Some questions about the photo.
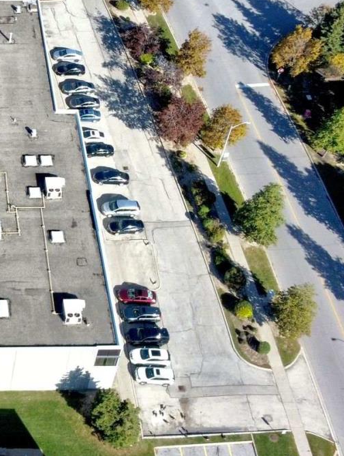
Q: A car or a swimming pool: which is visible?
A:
car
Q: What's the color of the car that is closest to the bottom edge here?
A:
white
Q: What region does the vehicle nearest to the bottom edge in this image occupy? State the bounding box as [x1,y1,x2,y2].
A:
[134,364,176,386]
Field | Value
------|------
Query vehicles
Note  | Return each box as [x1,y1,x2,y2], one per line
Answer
[121,304,163,324]
[107,217,145,234]
[85,141,117,159]
[61,79,94,95]
[83,128,109,143]
[68,95,101,110]
[117,287,158,305]
[93,169,129,186]
[129,345,171,367]
[101,198,140,216]
[70,109,104,124]
[134,364,176,386]
[127,324,169,345]
[54,62,85,77]
[52,49,84,63]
